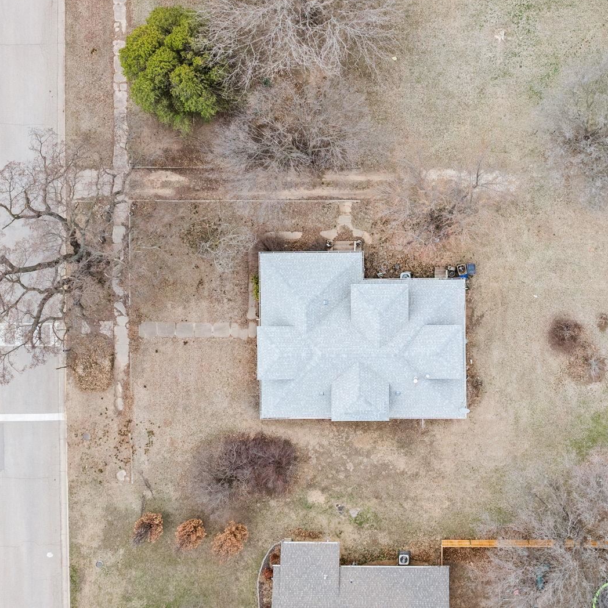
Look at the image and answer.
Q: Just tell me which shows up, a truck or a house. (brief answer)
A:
house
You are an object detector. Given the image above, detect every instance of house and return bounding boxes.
[270,531,449,608]
[256,252,470,425]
